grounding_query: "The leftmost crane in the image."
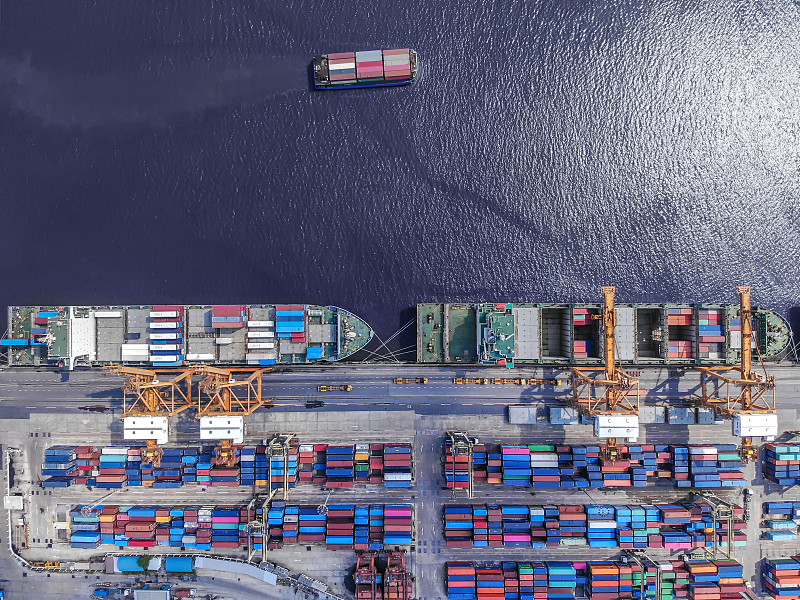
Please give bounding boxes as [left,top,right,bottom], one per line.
[101,362,203,470]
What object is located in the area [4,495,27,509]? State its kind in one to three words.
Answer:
building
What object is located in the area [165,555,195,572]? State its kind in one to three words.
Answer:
building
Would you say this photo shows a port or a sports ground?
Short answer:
port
